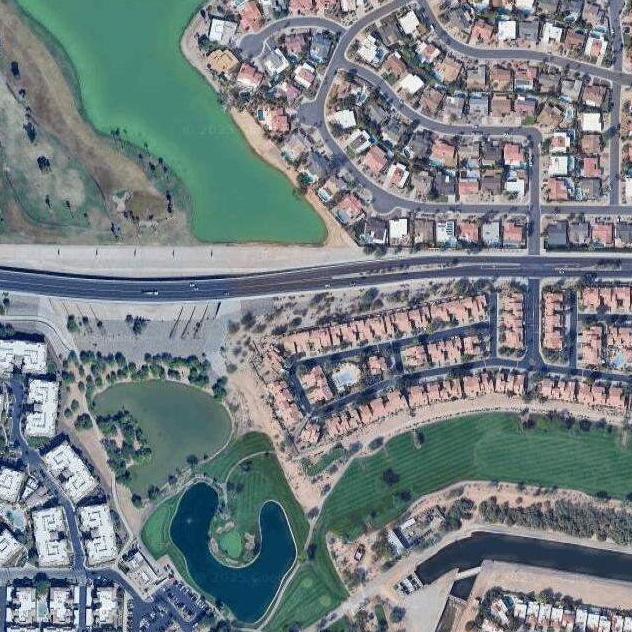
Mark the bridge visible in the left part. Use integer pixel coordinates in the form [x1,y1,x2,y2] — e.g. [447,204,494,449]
[0,263,353,303]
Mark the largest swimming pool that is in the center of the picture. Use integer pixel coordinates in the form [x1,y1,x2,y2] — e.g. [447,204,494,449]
[333,364,358,386]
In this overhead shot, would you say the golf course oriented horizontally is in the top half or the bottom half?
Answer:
bottom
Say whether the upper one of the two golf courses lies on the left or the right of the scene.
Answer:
left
